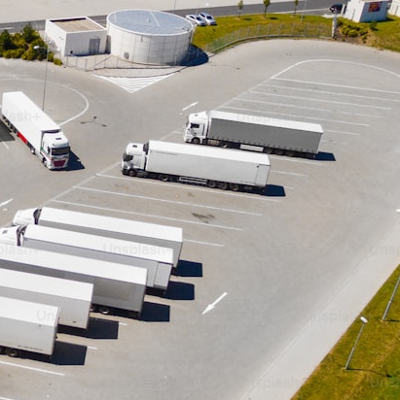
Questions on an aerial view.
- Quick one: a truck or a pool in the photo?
truck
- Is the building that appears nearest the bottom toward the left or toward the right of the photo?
left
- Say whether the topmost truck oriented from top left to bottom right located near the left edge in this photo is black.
No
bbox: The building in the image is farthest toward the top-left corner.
[44,16,107,55]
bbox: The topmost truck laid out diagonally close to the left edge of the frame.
[2,90,73,170]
